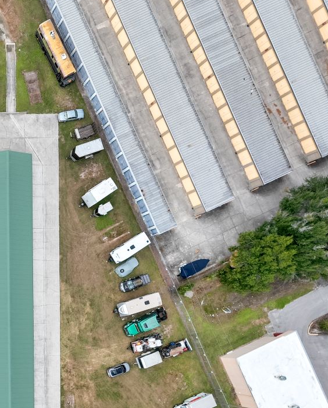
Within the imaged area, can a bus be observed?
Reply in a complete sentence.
Yes, there's a bus down there.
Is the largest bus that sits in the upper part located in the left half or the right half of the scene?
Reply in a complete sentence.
It is on the left.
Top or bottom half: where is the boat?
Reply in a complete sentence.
You can find the boat in the bottom half.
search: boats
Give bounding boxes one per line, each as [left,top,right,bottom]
[174,259,210,282]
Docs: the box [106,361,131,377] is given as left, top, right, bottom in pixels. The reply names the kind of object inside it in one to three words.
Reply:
car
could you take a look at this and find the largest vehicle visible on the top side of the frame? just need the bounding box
[37,20,73,92]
